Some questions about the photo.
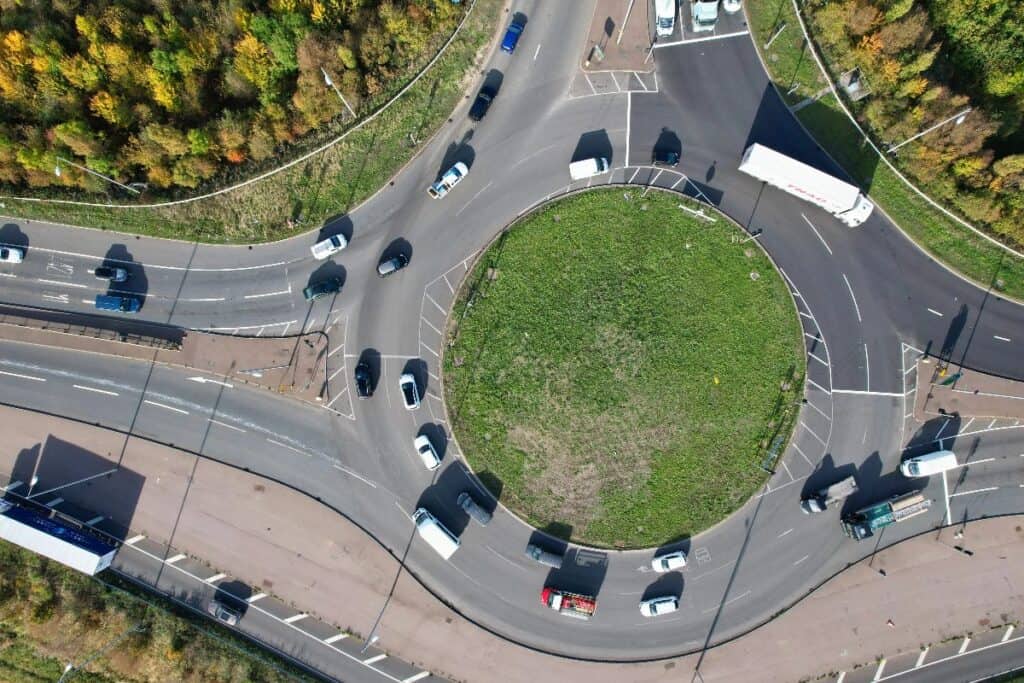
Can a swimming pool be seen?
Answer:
No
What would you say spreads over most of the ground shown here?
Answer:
paved ground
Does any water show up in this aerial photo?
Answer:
No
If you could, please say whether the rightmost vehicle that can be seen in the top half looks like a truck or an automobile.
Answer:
truck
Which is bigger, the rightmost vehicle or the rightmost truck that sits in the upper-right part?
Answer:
the truck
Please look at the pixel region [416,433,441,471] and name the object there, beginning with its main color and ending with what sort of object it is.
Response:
white car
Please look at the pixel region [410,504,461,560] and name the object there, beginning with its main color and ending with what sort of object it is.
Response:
white truck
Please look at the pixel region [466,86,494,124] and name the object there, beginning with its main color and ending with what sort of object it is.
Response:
black car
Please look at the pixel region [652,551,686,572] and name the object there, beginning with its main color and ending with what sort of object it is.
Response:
white car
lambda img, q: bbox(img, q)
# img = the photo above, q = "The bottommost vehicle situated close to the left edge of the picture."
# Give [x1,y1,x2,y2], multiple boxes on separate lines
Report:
[0,498,119,576]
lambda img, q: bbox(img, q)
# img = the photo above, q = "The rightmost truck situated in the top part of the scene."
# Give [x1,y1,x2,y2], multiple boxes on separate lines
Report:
[736,143,871,228]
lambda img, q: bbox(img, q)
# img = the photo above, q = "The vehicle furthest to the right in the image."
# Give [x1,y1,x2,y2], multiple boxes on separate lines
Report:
[898,451,959,477]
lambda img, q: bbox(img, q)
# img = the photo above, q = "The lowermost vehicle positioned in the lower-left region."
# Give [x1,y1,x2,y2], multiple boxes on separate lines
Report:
[209,599,243,626]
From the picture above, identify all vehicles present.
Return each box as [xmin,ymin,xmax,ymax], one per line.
[525,542,564,569]
[838,491,922,539]
[95,294,142,313]
[0,498,119,576]
[466,86,494,124]
[654,0,676,36]
[736,143,871,228]
[95,266,130,283]
[0,246,25,264]
[458,492,493,525]
[304,281,343,302]
[723,0,741,14]
[400,372,421,410]
[308,234,350,261]
[354,361,373,399]
[376,253,409,278]
[501,22,523,55]
[209,599,243,626]
[568,156,610,182]
[898,451,959,477]
[410,504,461,560]
[798,475,857,516]
[652,551,686,572]
[640,594,679,616]
[428,163,471,200]
[416,433,441,471]
[541,588,597,620]
[649,151,682,170]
